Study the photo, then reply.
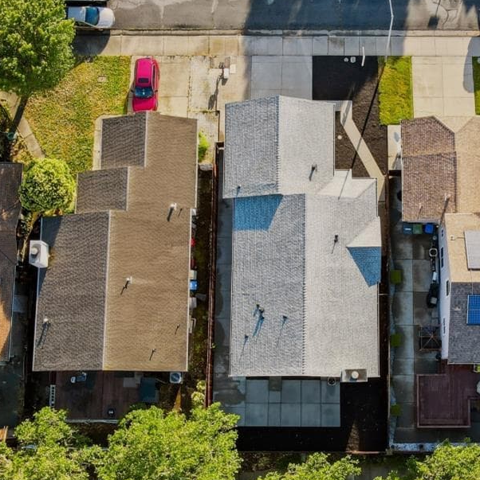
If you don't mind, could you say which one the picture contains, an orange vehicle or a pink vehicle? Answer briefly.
pink vehicle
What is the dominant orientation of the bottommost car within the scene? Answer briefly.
vertically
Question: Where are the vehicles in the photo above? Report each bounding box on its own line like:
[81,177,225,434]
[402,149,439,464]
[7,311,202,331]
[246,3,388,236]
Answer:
[132,60,158,109]
[64,5,119,32]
